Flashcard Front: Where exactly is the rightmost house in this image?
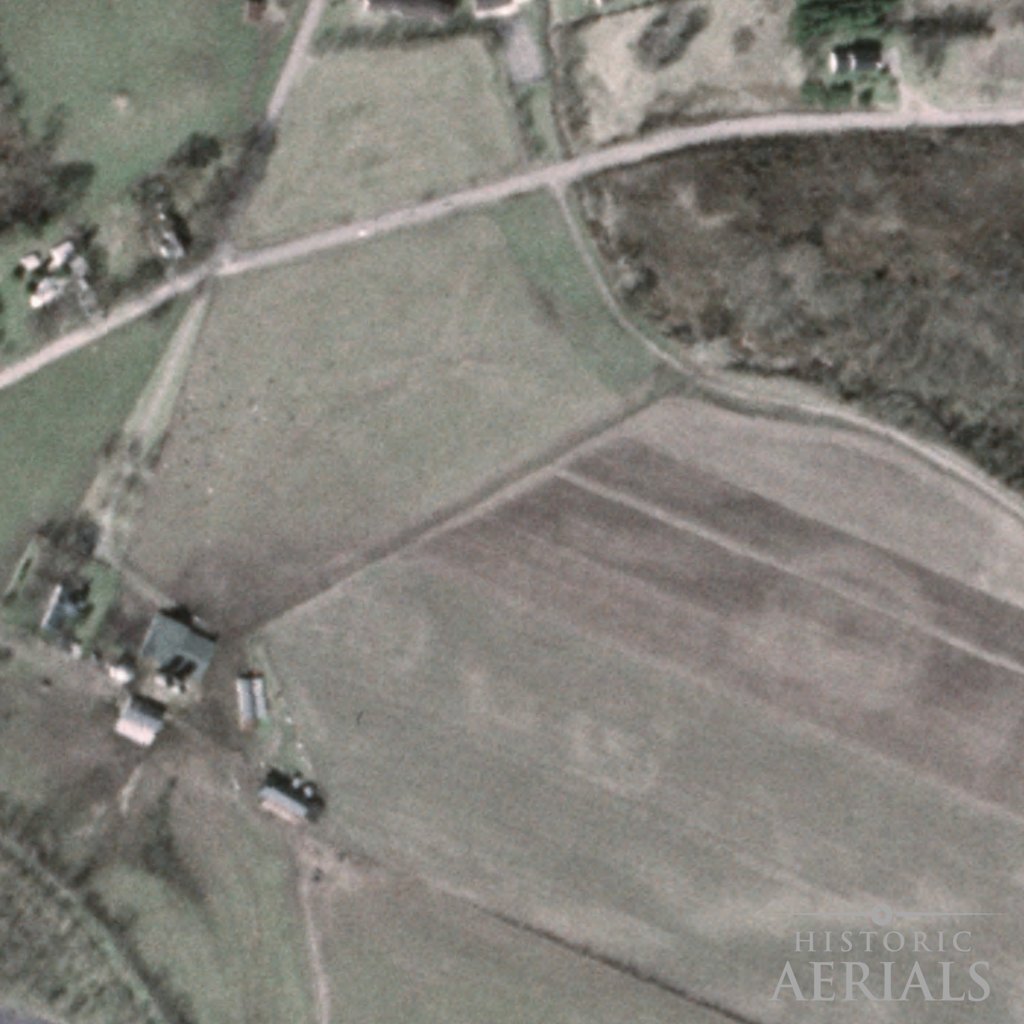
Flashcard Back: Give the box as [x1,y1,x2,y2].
[828,47,893,76]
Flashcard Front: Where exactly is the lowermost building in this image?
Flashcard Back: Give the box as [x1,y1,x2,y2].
[261,774,317,819]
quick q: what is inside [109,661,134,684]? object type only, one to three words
building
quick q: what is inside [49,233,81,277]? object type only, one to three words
house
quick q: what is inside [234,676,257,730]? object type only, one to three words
shed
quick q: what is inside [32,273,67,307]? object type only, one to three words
barn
